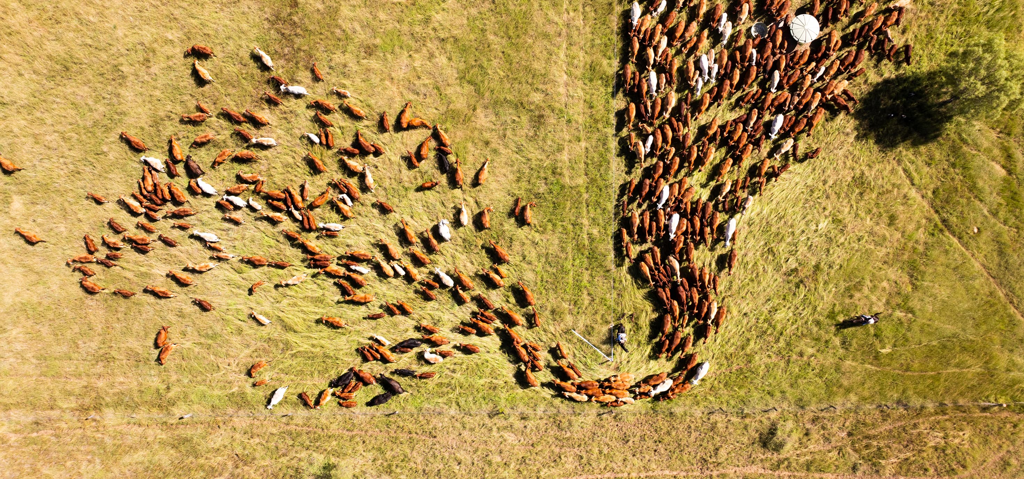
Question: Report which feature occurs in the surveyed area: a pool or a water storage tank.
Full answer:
Of the two, only a water storage tank appears.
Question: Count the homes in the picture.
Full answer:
The count of homes is 0.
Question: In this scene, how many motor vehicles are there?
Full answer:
There are no motor vehicles in this view.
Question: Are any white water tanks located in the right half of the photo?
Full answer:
Yes, there is a white water tank in the right half of the photo.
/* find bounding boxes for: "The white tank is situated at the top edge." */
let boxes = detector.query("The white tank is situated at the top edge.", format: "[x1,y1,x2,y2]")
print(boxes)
[784,13,820,47]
